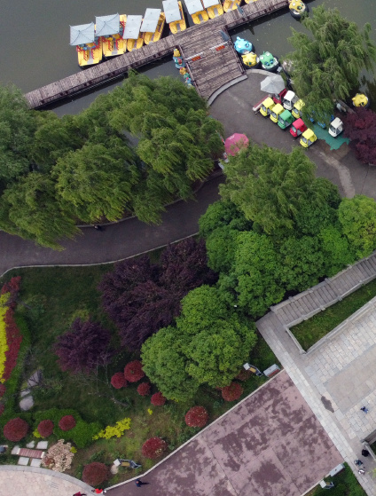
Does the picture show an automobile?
Yes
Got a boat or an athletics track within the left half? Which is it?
boat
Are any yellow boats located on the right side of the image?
Yes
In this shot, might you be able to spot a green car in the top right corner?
Yes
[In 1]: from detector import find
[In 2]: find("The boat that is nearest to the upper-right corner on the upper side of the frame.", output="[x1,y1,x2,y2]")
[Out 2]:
[287,1,308,20]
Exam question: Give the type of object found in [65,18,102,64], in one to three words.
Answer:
boat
